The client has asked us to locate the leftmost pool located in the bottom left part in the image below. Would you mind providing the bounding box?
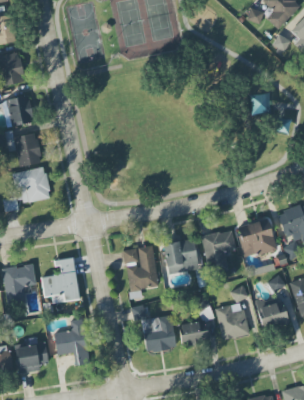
[24,291,41,317]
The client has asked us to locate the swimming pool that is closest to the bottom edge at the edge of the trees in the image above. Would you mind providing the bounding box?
[46,316,71,336]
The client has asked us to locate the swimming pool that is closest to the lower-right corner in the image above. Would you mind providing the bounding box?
[255,282,275,302]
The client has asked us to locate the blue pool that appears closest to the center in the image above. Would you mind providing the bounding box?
[169,274,191,288]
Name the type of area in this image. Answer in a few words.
residential area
